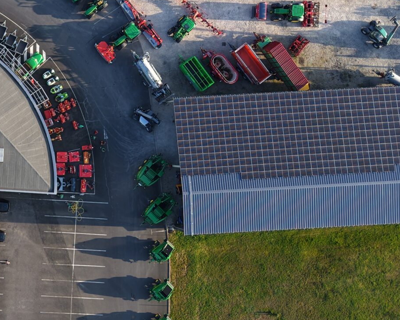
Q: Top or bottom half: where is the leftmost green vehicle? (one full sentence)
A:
You can find the leftmost green vehicle in the top half.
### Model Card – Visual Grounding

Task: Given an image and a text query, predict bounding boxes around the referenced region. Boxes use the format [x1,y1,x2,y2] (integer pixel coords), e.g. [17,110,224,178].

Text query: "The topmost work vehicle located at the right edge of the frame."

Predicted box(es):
[358,22,400,48]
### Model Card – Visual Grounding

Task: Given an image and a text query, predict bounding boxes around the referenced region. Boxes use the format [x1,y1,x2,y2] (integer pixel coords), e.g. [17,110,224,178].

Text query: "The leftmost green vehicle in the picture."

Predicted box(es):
[19,55,42,77]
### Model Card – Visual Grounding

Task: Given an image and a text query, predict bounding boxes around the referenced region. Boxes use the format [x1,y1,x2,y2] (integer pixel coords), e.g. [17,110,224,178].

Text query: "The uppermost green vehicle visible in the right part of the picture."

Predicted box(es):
[266,2,306,22]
